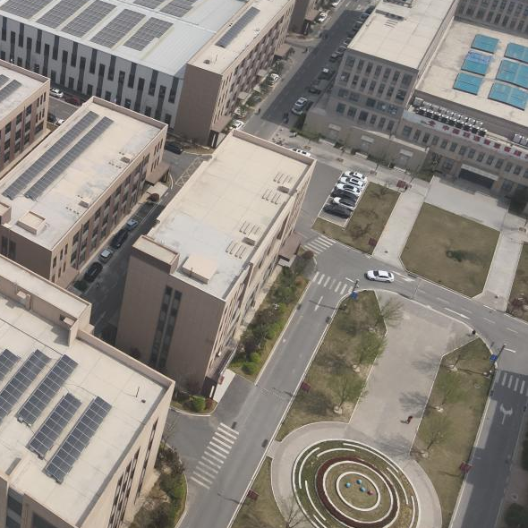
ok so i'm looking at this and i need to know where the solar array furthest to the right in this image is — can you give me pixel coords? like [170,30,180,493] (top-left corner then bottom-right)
[212,7,261,50]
